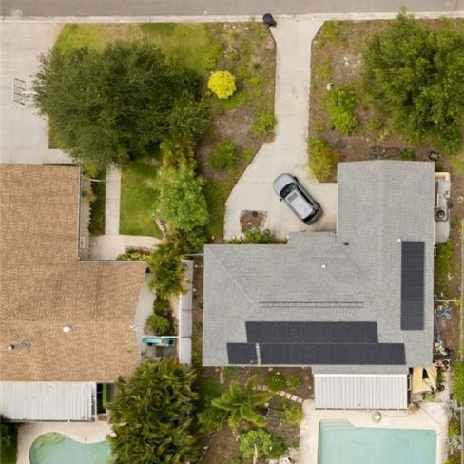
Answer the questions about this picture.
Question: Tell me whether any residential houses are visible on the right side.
Yes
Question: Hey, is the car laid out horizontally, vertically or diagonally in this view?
diagonally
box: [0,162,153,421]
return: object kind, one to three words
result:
house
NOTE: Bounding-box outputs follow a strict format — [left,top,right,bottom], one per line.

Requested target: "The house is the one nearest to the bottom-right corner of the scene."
[202,158,437,410]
